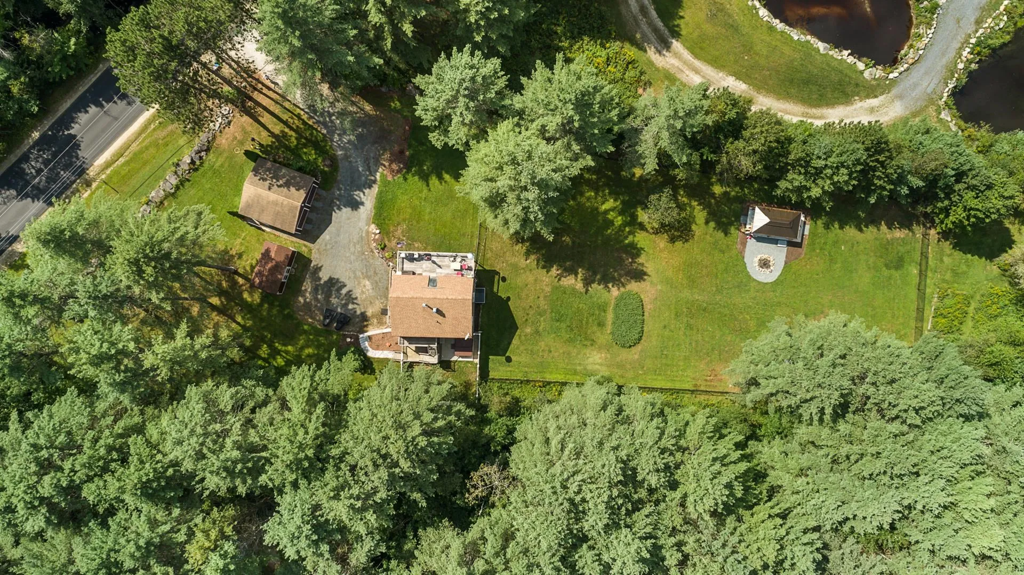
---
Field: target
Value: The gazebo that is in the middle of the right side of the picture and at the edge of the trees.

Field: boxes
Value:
[740,205,809,249]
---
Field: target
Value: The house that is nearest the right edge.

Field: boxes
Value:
[388,251,485,367]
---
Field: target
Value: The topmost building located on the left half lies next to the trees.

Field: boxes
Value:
[239,158,319,233]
